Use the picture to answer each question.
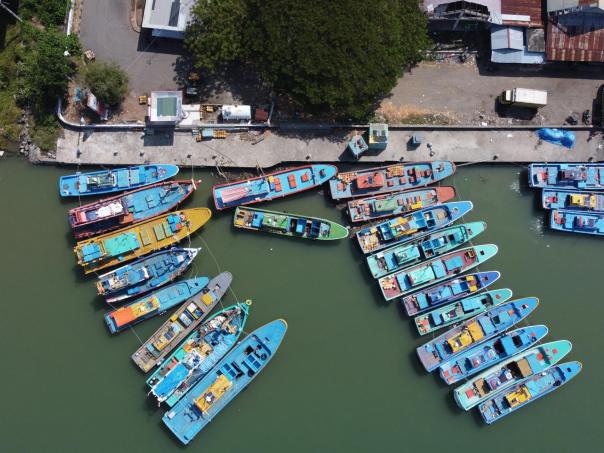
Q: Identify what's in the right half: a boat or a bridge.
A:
boat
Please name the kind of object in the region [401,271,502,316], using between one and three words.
boat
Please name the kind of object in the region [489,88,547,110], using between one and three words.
truck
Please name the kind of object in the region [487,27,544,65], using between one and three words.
shed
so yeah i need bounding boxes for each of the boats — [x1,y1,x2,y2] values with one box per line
[416,297,540,372]
[452,341,573,413]
[104,278,210,332]
[347,185,457,223]
[59,165,181,196]
[401,271,502,316]
[356,202,474,255]
[539,189,604,215]
[234,206,350,241]
[147,303,247,404]
[212,166,339,209]
[161,318,289,444]
[547,210,604,236]
[378,243,500,303]
[367,222,488,278]
[132,274,232,372]
[94,249,199,299]
[71,206,212,272]
[67,179,203,238]
[413,289,514,336]
[439,326,549,387]
[329,162,458,202]
[526,165,604,191]
[477,361,583,425]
